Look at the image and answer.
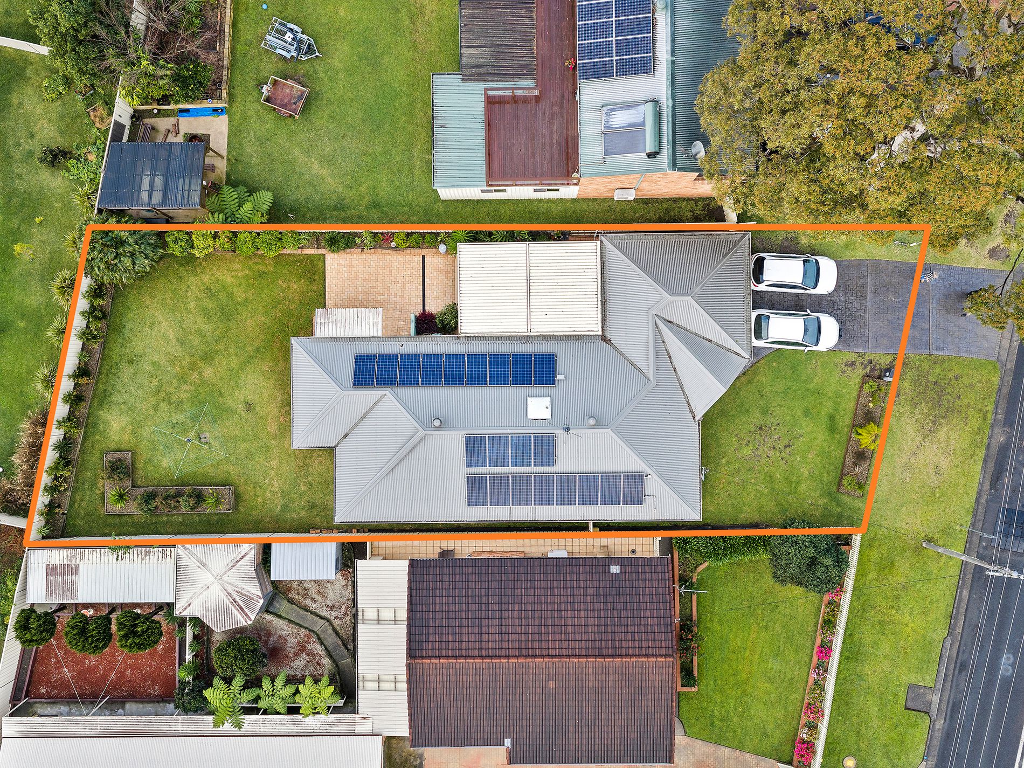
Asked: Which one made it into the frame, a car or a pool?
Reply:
car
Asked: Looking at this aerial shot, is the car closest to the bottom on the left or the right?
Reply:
right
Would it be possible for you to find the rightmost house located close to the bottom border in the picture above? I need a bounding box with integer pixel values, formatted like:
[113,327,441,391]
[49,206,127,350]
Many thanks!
[404,554,682,766]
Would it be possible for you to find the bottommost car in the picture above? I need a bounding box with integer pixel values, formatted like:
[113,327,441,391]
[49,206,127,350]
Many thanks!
[753,309,836,352]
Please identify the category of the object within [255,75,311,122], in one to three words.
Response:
trailer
